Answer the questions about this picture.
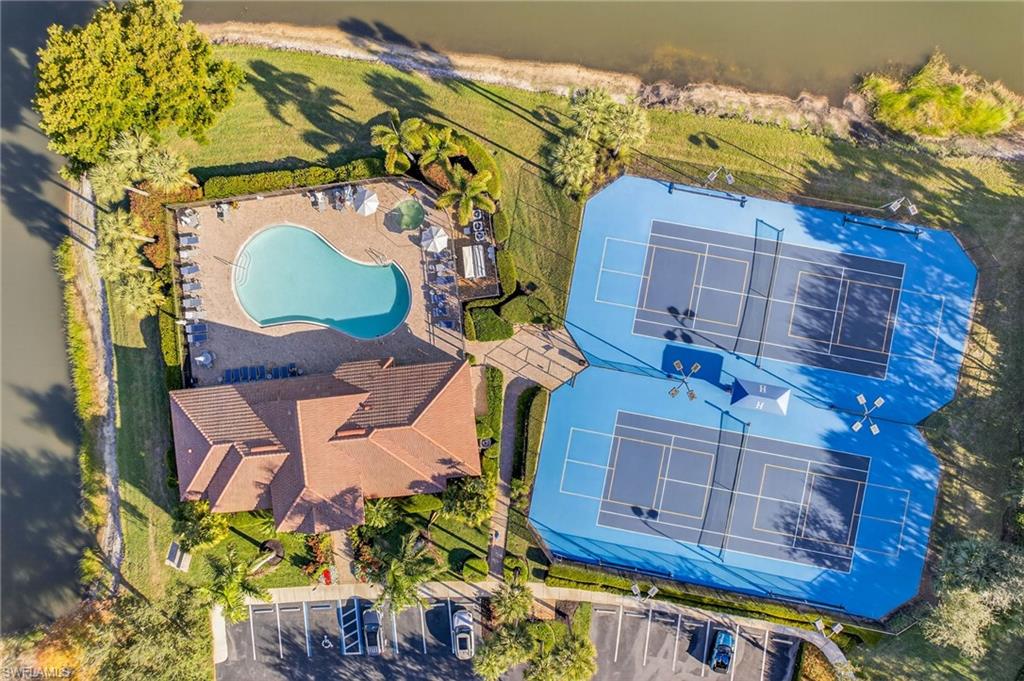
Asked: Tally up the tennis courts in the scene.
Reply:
2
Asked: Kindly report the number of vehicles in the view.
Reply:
3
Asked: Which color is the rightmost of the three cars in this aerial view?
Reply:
blue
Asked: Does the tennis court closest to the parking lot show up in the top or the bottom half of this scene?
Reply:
bottom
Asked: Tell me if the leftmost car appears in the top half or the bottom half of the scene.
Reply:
bottom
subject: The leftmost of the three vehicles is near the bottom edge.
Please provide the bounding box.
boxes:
[358,606,383,657]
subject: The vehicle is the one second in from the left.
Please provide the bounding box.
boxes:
[450,606,475,661]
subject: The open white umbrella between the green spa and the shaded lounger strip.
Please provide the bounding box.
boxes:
[421,225,447,251]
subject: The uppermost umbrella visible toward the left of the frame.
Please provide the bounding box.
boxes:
[353,187,381,215]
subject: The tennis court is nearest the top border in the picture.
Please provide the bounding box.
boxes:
[565,176,977,424]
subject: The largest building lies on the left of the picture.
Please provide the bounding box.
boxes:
[168,359,481,538]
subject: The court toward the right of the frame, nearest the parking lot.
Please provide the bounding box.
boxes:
[528,365,940,619]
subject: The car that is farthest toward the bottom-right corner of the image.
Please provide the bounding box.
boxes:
[709,623,737,674]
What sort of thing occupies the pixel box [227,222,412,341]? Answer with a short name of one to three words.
swimming pool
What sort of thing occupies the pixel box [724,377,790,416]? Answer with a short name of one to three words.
tent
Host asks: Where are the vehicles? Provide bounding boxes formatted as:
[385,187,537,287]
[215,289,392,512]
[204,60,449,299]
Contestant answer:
[450,606,475,661]
[709,623,737,674]
[358,606,383,657]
